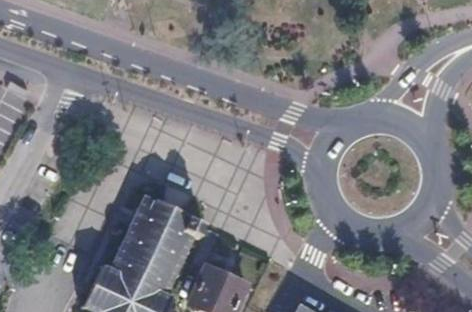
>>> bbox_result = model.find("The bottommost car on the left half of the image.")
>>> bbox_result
[178,276,192,297]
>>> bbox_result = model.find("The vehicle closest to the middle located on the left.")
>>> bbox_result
[166,172,191,189]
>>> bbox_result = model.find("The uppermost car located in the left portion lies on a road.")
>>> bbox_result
[22,122,36,144]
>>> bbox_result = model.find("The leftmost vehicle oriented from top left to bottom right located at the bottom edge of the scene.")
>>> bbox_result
[304,294,324,311]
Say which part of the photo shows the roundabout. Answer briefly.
right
